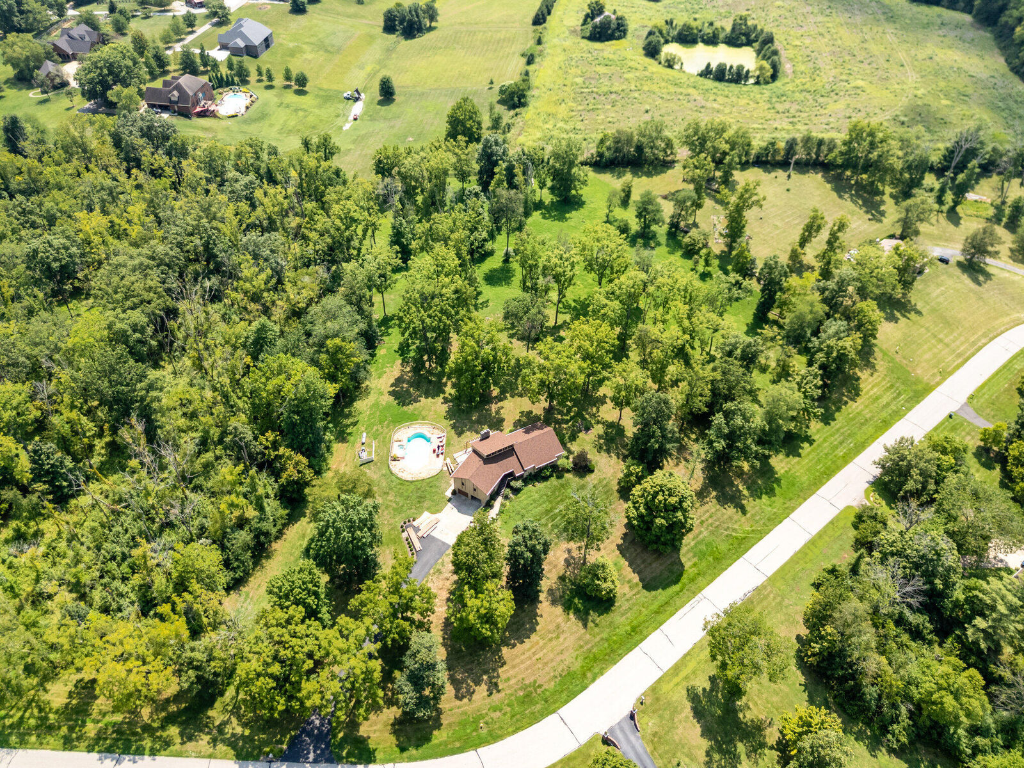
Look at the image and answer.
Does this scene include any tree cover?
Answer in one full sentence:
Yes, tree cover shows up in the scene.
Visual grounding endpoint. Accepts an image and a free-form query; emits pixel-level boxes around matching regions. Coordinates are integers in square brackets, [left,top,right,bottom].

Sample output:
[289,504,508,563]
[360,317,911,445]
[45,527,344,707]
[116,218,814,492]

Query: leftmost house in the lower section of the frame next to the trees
[450,423,566,508]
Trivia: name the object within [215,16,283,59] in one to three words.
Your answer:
house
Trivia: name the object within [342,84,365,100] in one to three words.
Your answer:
vehicle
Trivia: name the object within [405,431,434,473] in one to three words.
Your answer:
swimming pool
